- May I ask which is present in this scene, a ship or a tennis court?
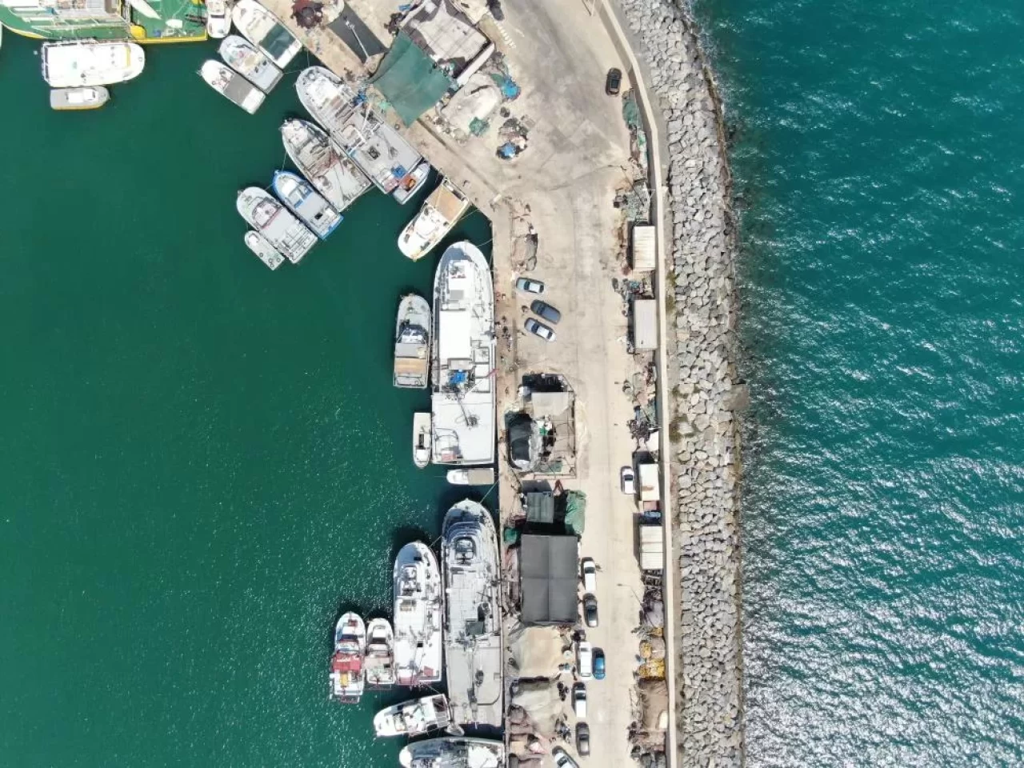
ship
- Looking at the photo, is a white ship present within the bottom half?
Yes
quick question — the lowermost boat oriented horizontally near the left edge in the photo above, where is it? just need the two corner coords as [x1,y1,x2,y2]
[50,87,110,111]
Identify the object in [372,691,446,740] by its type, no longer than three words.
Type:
boat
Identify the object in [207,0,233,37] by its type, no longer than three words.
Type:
boat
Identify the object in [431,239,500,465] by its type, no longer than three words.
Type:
ship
